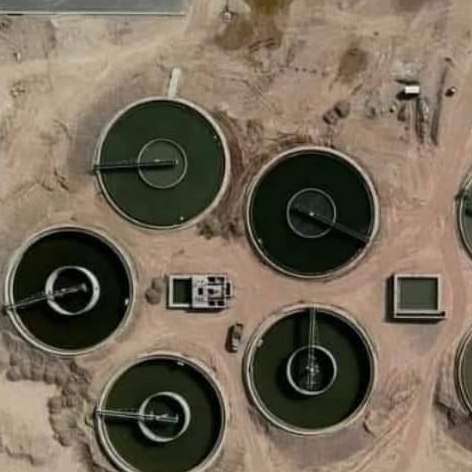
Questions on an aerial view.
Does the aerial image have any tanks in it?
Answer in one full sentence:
Yes, a tank can be made out from above.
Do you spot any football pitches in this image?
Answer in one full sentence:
No, the frame has no football pitch in it.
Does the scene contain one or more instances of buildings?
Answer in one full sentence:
Yes, this view includes a building.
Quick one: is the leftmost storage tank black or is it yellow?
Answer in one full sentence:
The color of the leftmost storage tank is black.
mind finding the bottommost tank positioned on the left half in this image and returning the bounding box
[92,352,229,472]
